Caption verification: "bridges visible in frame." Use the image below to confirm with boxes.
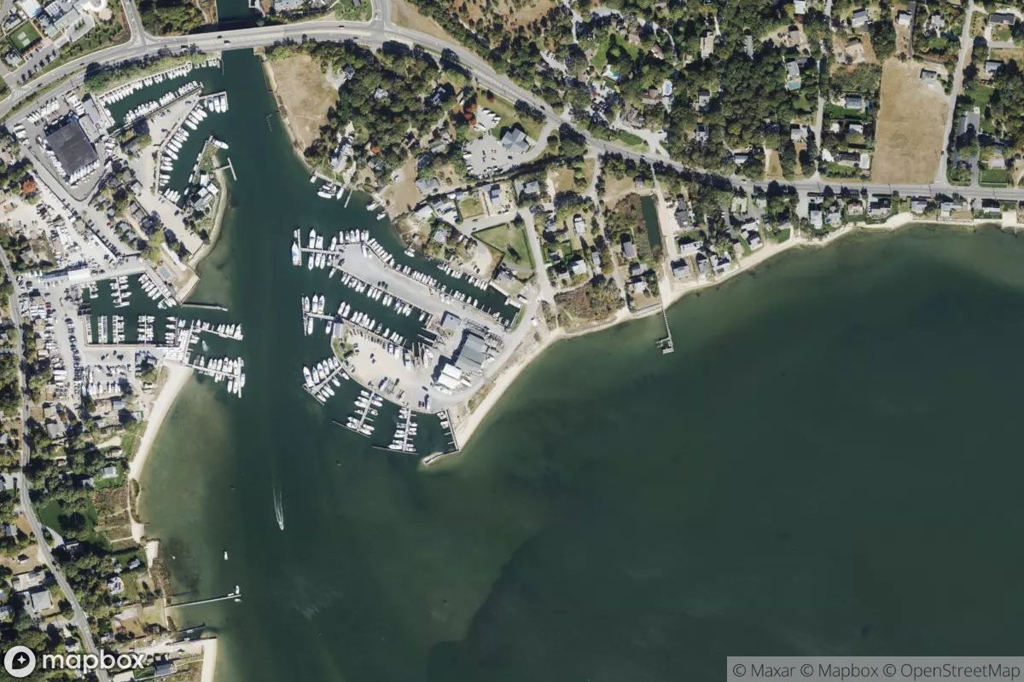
[210,26,263,50]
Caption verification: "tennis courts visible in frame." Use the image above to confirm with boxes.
[8,20,41,51]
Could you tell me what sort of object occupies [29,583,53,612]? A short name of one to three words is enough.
house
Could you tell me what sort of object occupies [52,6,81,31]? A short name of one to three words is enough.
building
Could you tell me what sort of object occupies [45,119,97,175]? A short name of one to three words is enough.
shed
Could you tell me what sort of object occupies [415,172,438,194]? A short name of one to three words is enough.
house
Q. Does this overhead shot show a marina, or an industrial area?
marina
